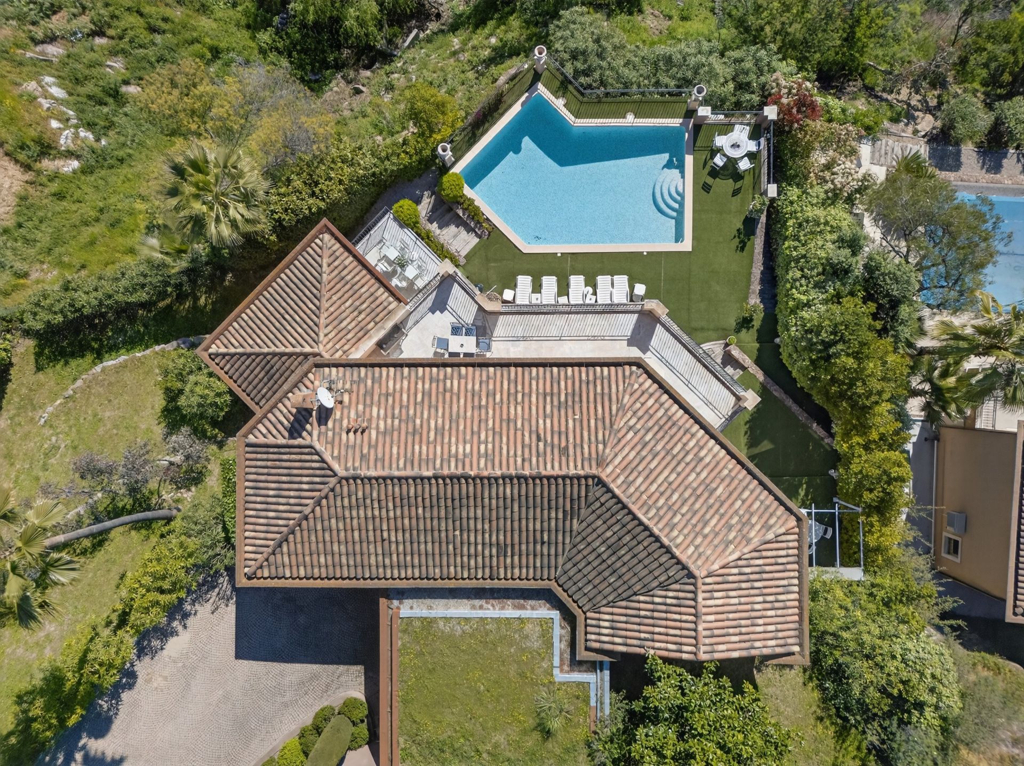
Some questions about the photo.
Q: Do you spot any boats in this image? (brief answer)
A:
No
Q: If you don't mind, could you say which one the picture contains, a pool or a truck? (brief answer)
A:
pool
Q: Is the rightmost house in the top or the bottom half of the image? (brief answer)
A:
bottom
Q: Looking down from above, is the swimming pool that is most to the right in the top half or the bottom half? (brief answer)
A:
top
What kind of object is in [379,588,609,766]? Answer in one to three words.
building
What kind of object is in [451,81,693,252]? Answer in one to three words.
swimming pool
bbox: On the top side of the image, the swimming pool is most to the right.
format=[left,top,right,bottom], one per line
[926,188,1024,307]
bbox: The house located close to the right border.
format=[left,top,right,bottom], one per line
[937,420,1024,623]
